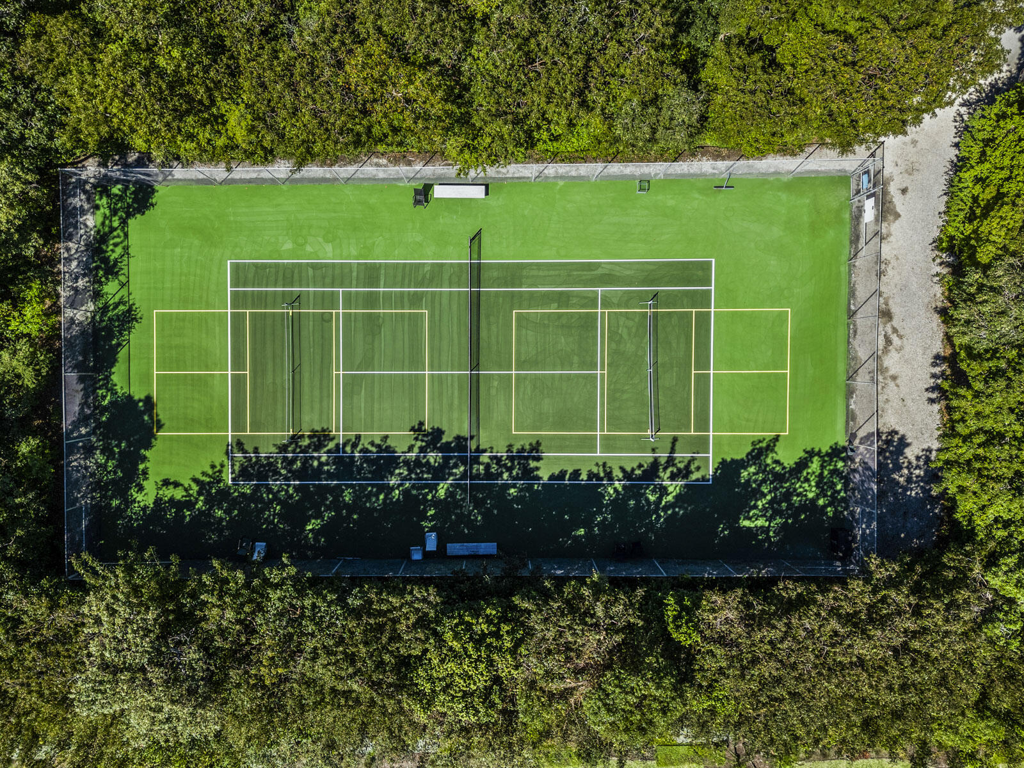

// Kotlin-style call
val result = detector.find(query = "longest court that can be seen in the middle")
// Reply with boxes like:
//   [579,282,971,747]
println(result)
[93,170,851,561]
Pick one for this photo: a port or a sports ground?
sports ground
